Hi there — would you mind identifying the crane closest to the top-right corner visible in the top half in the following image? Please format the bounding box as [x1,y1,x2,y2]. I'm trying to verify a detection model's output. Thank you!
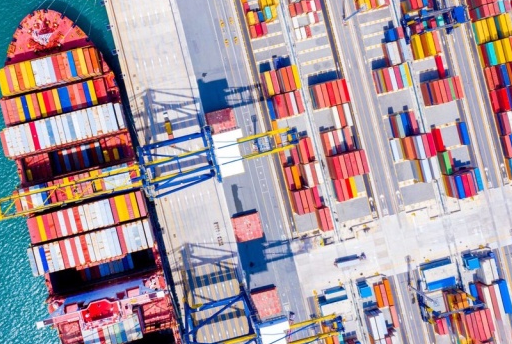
[396,2,470,43]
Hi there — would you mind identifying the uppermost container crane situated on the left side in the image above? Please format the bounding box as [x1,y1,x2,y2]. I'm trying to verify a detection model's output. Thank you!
[0,121,302,222]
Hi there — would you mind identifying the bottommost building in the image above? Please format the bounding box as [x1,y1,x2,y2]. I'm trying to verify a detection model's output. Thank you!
[318,296,353,319]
